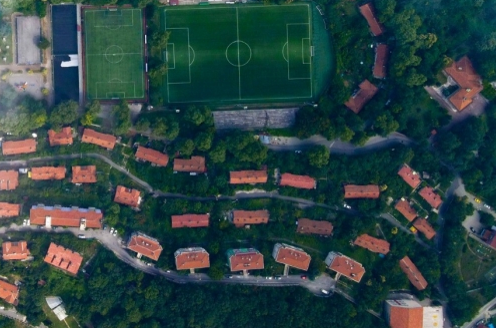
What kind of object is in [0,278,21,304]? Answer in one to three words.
house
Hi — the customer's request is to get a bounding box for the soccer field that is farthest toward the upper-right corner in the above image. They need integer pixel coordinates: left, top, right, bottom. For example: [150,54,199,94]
[158,0,339,111]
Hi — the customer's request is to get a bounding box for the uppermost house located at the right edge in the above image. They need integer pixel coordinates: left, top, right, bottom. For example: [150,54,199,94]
[439,53,484,113]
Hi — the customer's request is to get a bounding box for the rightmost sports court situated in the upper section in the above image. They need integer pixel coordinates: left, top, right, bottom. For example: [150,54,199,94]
[50,3,84,106]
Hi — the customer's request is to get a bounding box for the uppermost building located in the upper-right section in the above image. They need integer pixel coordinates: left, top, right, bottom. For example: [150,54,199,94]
[357,3,382,35]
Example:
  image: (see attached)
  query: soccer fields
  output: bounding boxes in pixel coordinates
[158,0,339,111]
[80,3,150,105]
